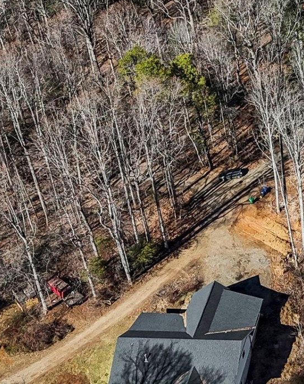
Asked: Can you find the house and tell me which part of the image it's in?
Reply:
bottom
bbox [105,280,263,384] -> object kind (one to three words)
house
